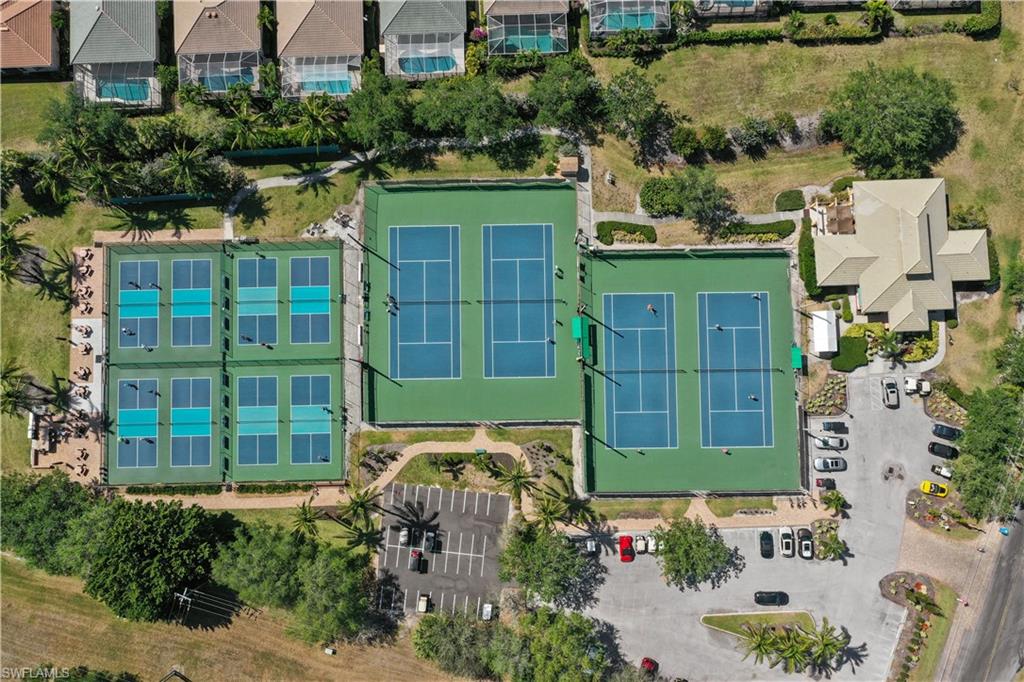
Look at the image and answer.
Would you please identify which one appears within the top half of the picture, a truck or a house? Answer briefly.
house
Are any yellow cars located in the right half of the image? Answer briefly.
Yes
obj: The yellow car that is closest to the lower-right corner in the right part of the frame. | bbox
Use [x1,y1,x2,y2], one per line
[919,481,949,497]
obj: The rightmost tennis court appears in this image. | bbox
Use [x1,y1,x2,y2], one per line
[694,292,780,448]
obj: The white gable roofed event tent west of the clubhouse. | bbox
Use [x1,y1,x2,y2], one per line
[807,309,838,358]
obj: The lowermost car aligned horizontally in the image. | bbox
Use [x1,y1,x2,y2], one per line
[754,591,787,606]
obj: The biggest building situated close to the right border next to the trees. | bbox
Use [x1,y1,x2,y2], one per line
[812,178,990,332]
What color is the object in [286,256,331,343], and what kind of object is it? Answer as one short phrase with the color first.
blue sports court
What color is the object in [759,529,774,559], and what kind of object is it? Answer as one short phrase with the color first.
black car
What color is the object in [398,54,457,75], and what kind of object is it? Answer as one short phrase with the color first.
blue swimming pool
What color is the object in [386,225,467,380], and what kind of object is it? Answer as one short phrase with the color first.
blue tennis court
